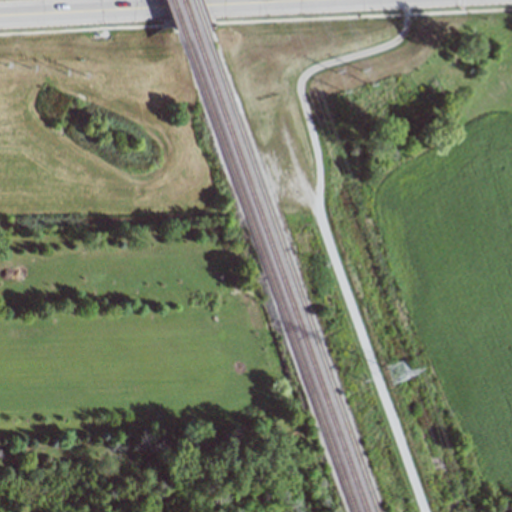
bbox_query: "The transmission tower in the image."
[386,361,433,386]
